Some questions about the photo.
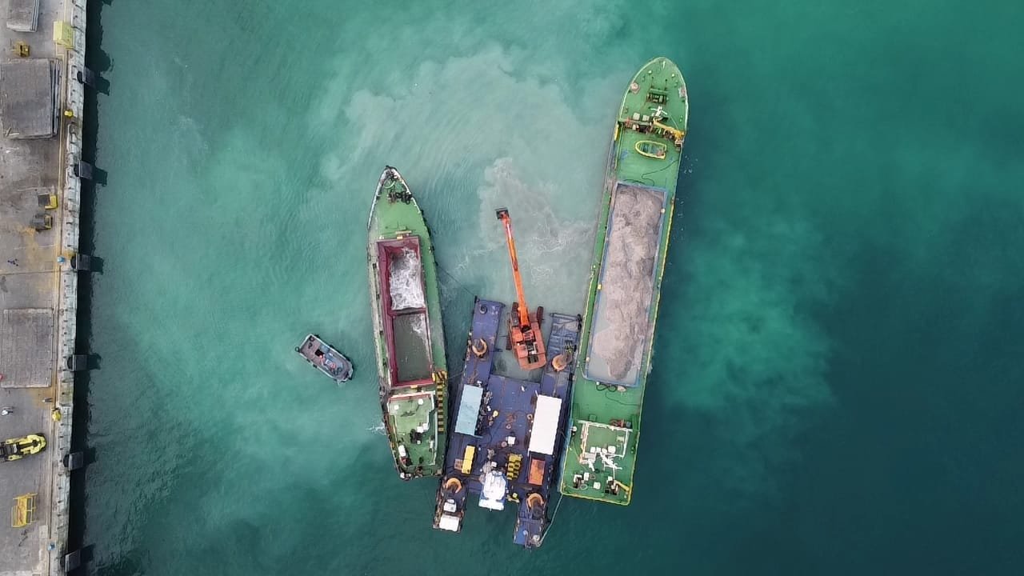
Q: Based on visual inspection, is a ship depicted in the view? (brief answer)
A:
Yes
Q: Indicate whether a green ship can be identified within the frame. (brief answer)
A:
Yes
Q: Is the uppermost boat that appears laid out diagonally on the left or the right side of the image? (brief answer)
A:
left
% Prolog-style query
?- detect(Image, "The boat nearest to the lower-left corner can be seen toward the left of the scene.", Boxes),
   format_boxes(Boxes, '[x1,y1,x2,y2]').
[295,332,356,385]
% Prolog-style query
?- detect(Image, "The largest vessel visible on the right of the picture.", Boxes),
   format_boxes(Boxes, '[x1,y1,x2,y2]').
[559,57,689,506]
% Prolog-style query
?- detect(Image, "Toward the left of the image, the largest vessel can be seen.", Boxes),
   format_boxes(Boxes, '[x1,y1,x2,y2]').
[367,163,451,480]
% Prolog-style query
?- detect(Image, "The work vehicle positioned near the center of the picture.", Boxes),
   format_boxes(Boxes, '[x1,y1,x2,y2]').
[494,205,547,370]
